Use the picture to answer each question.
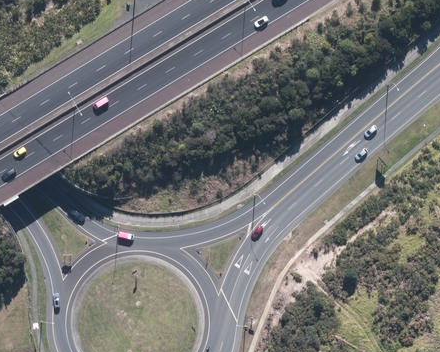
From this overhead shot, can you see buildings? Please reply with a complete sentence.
No, no building is visible in the view.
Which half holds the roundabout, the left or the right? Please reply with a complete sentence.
It is on the left.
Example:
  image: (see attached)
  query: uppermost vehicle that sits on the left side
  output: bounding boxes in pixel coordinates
[94,96,110,108]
